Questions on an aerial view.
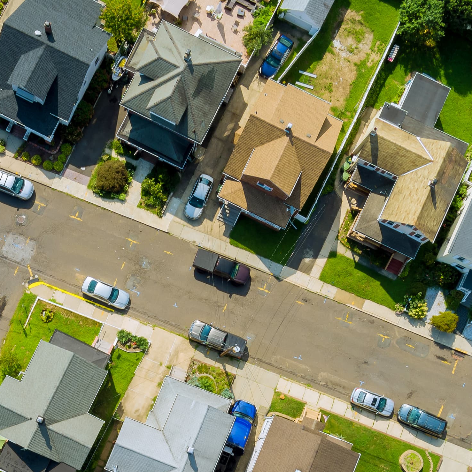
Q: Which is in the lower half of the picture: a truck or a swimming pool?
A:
truck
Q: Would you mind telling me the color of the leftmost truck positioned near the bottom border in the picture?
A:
blue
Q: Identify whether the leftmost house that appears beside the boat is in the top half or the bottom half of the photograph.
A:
top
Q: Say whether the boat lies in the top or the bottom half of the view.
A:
top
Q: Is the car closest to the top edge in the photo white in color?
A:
No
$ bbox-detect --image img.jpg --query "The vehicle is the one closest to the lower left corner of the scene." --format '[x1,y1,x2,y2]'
[80,277,131,309]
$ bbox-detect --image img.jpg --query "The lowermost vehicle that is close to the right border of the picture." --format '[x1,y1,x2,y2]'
[395,405,450,438]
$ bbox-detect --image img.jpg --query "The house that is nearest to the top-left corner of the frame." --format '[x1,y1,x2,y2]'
[0,0,113,150]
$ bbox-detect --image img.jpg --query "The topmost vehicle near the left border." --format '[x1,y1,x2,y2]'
[0,170,35,201]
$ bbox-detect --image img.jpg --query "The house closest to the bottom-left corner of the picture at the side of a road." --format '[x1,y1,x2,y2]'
[0,328,111,472]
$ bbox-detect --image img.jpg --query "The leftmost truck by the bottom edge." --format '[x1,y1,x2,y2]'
[216,395,261,472]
